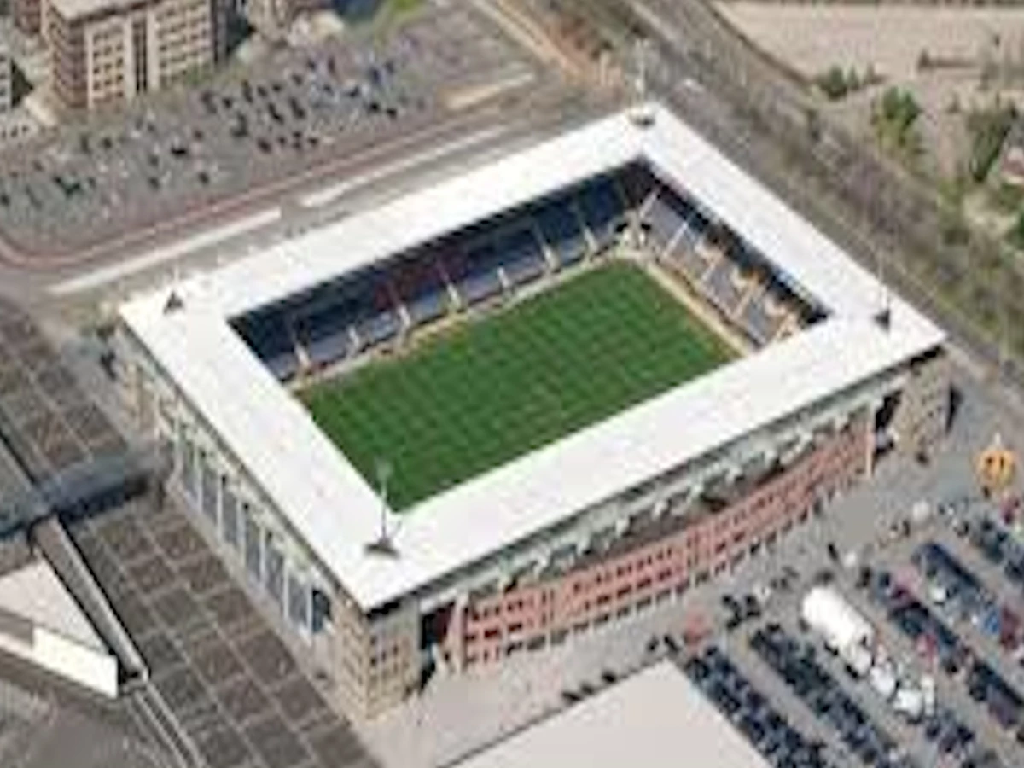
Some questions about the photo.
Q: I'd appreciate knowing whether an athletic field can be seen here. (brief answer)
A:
Yes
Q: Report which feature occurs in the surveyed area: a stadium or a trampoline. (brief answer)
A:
stadium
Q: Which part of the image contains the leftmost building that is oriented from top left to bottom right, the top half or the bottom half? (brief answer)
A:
bottom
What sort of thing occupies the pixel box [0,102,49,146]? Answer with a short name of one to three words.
building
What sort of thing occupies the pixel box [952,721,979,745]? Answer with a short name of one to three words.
vehicle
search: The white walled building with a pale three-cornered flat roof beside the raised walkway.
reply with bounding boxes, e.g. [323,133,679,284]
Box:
[0,547,117,692]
